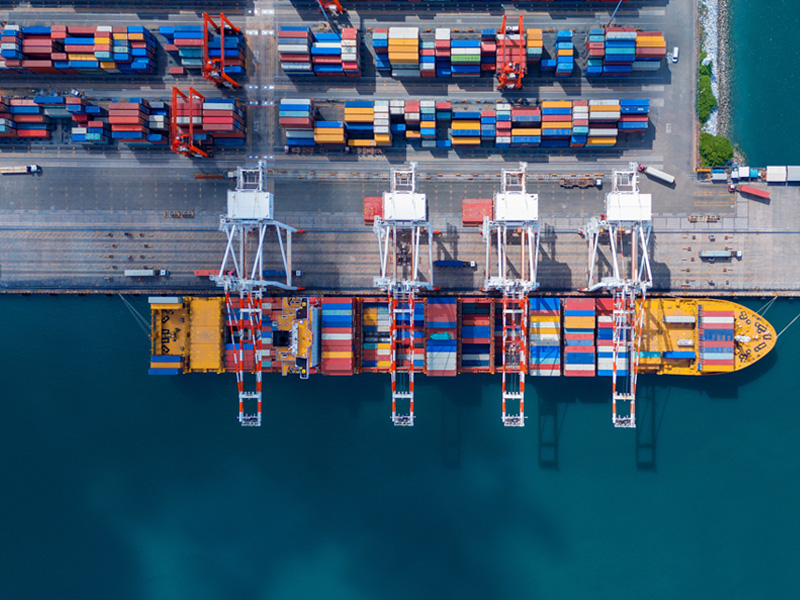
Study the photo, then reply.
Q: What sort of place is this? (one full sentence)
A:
The picture captures a port.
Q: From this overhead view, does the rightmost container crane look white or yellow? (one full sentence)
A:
The rightmost container crane looks white in the image.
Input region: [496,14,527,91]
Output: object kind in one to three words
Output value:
crane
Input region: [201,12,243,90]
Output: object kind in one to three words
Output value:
crane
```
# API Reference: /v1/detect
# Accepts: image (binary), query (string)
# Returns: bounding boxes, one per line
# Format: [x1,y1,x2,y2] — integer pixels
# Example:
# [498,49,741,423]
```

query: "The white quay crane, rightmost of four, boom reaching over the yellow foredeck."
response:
[570,161,655,428]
